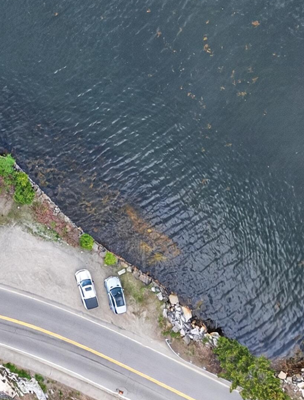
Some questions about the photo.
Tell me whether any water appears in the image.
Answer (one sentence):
Yes, the picture does contain water.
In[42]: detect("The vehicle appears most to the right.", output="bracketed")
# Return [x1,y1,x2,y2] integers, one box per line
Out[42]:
[106,276,131,318]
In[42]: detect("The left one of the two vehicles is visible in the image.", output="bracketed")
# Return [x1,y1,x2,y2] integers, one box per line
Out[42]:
[75,270,101,312]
